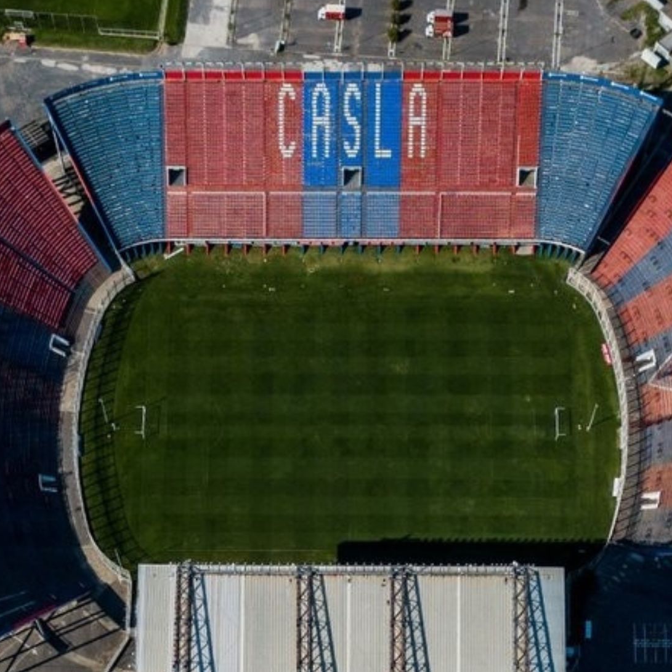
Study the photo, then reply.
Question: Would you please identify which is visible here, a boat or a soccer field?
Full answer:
The image shows a soccer field.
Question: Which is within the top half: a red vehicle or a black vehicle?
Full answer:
Visible within the top half is a red vehicle.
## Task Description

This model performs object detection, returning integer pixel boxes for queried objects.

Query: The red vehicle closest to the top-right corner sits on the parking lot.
[427,18,453,41]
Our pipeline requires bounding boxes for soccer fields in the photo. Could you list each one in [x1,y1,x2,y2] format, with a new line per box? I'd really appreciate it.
[79,245,624,626]
[0,0,162,55]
